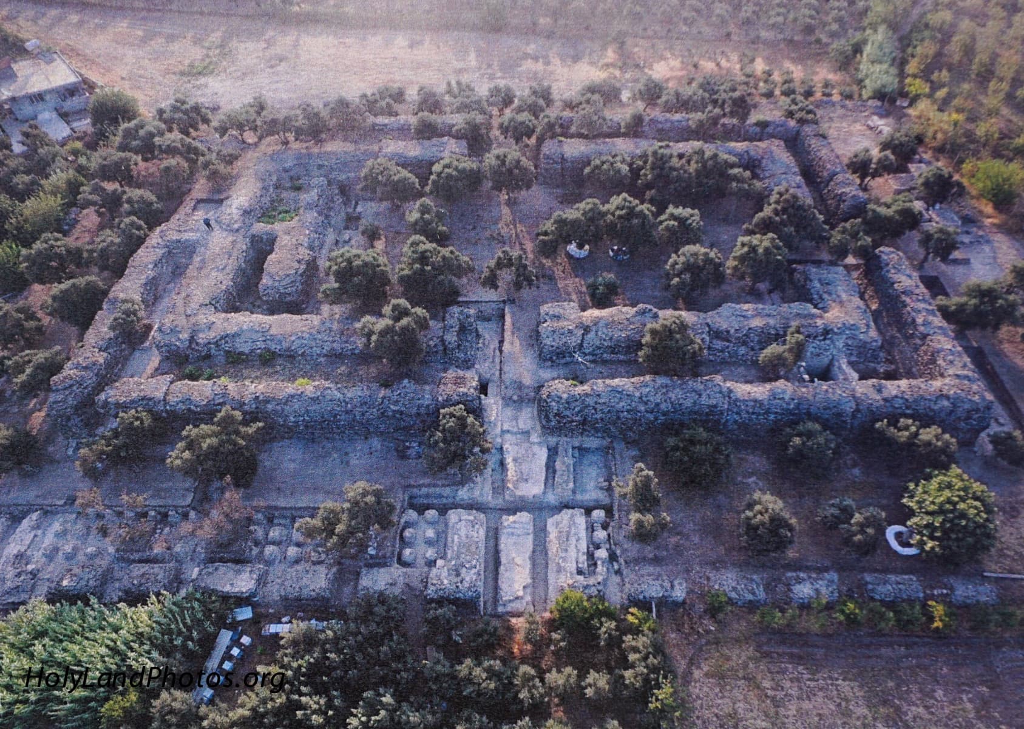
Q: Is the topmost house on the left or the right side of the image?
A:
left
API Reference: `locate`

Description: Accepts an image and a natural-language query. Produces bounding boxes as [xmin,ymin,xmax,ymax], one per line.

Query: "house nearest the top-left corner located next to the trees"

[0,56,86,130]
